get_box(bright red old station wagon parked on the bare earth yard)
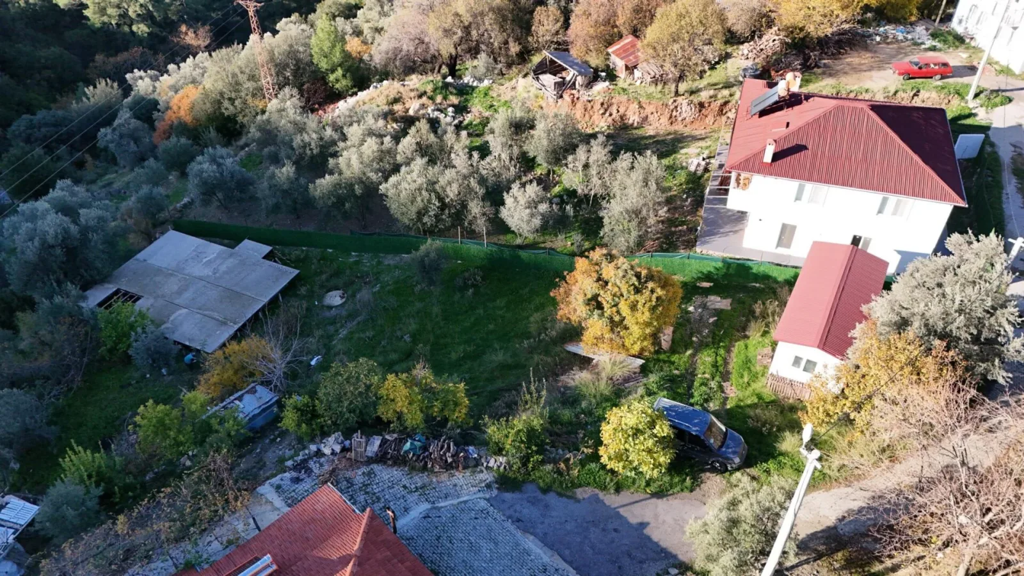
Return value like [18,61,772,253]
[886,53,957,79]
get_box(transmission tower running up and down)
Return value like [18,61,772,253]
[226,0,286,129]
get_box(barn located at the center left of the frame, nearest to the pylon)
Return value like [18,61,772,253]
[86,229,301,353]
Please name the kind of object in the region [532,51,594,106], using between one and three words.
shed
